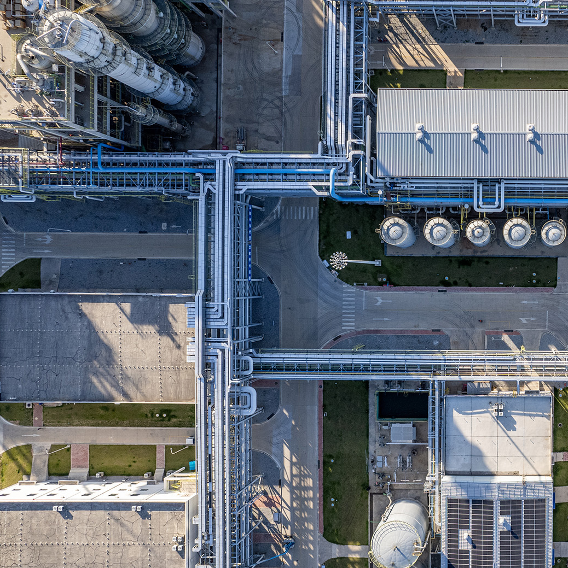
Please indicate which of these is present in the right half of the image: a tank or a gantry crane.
tank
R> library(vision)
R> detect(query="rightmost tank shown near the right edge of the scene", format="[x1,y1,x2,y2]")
[539,216,568,247]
